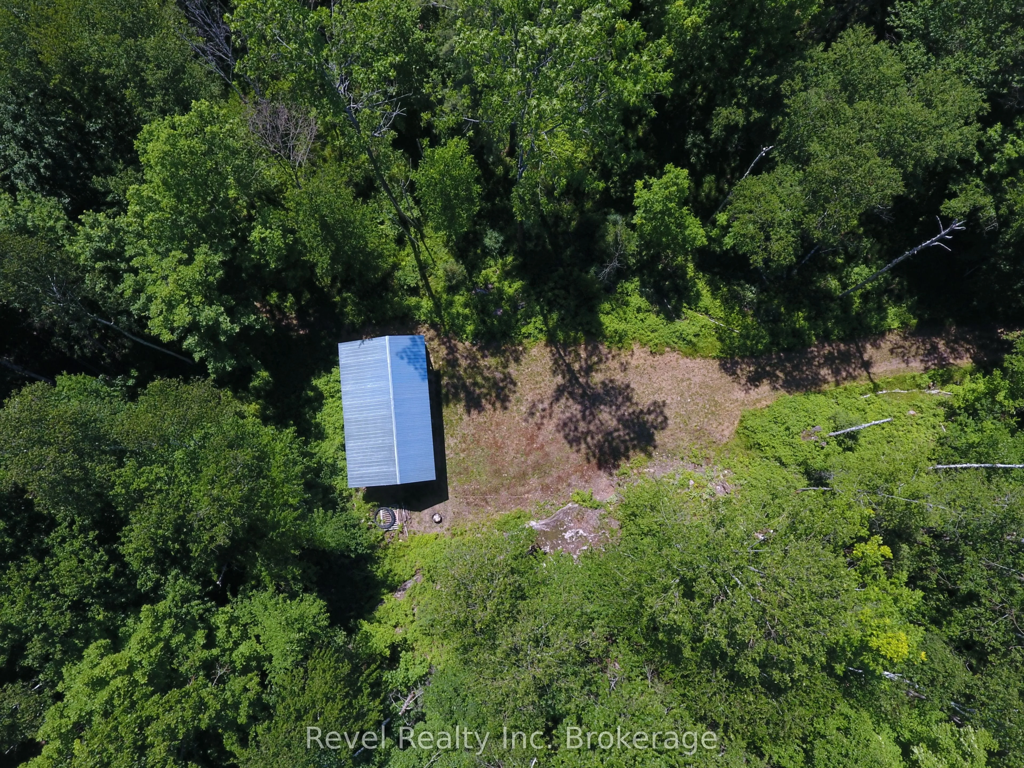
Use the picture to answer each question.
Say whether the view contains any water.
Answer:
No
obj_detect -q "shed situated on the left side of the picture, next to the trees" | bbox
[339,334,437,488]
